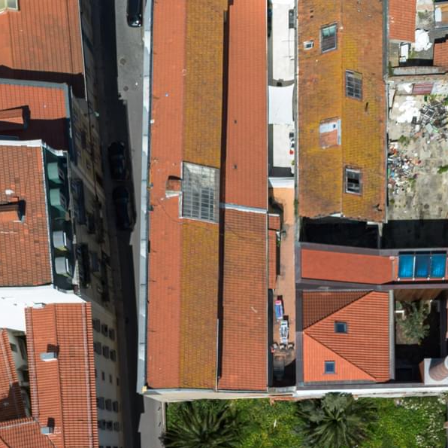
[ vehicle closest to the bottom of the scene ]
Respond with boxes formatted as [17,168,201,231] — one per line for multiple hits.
[109,185,134,233]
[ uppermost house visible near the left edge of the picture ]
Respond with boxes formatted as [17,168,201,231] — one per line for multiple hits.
[0,0,112,139]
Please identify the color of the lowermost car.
black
